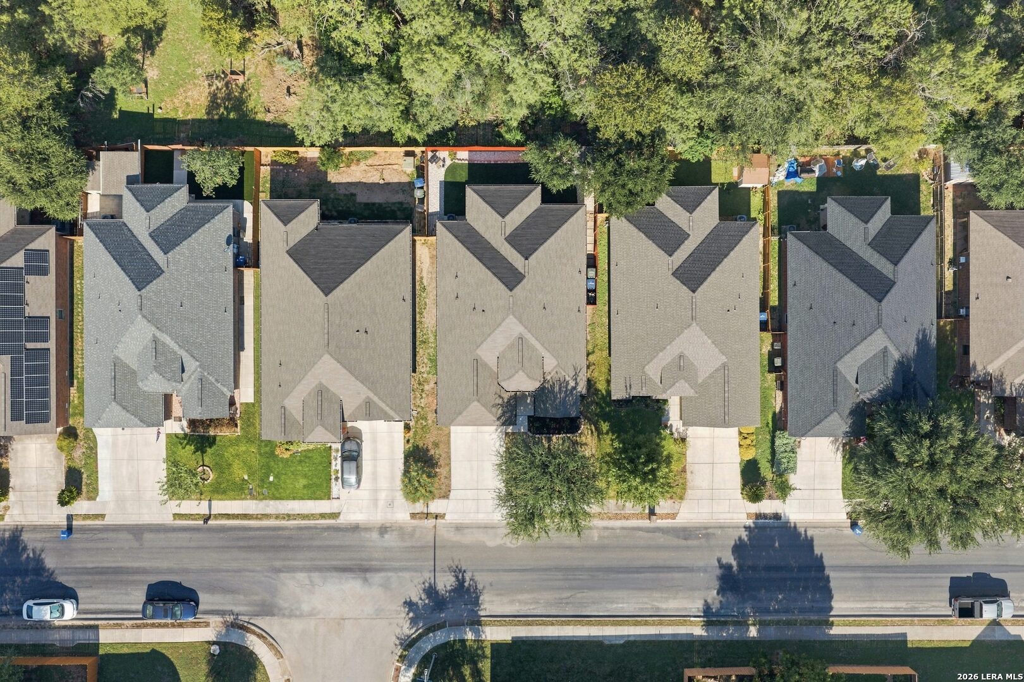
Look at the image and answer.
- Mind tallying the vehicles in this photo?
4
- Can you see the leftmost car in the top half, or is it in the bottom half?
bottom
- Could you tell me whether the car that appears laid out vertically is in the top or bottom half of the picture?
bottom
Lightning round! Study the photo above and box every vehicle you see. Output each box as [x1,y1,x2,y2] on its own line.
[946,594,1011,623]
[144,598,201,623]
[338,437,364,490]
[25,597,82,623]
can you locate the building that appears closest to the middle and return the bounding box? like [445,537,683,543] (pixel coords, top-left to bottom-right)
[436,184,587,427]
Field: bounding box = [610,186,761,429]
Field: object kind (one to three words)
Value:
house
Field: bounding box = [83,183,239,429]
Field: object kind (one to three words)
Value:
house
